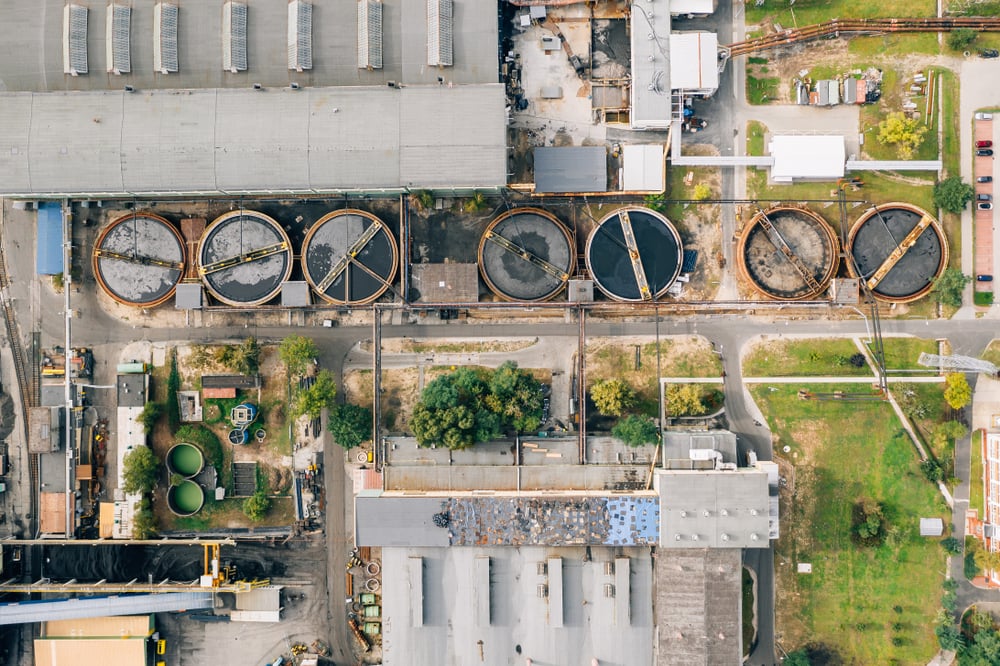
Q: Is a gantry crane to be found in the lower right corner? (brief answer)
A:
No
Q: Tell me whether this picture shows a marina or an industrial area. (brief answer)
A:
industrial area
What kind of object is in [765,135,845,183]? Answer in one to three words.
shed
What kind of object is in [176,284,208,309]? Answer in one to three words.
shed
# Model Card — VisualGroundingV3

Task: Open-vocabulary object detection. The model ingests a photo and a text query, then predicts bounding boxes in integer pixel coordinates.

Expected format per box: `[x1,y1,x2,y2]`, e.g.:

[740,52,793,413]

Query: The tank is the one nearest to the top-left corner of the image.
[92,198,187,307]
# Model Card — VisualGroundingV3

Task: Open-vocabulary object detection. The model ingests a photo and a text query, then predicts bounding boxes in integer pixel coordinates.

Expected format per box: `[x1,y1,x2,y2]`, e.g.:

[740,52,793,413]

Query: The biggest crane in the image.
[200,541,237,589]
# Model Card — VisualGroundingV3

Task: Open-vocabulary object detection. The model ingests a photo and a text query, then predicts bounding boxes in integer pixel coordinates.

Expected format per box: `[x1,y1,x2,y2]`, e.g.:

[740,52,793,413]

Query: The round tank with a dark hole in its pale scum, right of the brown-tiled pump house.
[479,192,577,303]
